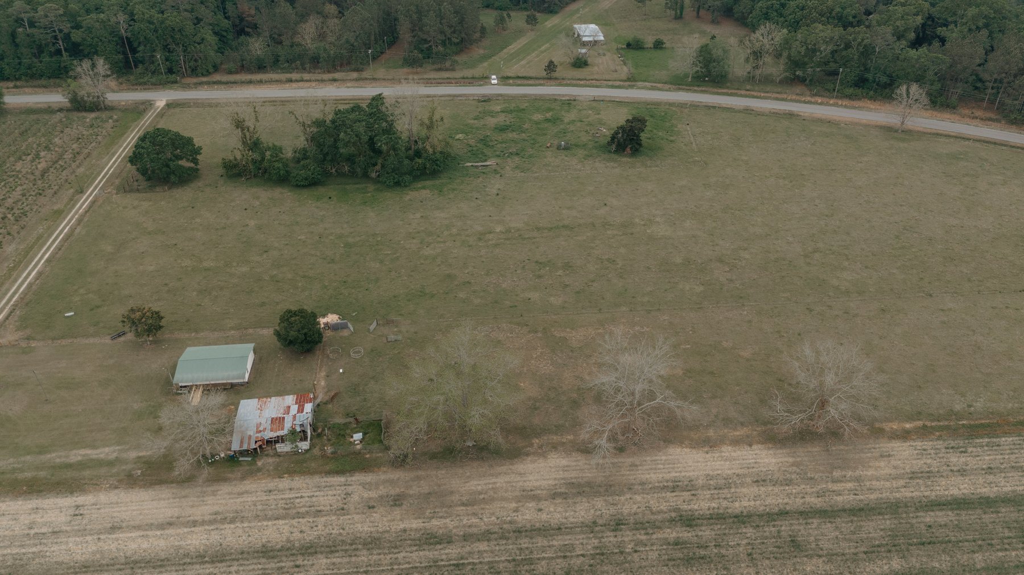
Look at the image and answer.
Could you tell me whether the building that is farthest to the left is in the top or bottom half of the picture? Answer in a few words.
bottom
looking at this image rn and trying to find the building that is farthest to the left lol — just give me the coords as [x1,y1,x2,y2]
[171,344,258,412]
